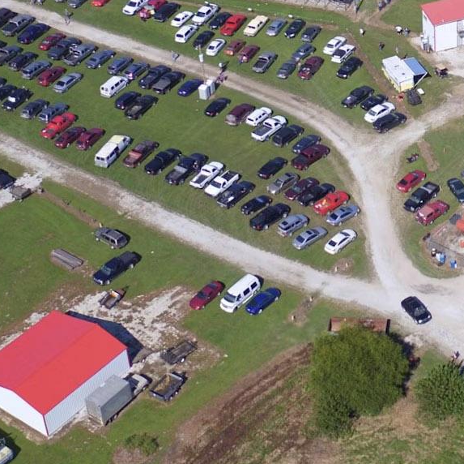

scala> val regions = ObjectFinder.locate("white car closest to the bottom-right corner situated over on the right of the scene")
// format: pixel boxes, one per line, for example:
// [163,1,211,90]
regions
[325,229,357,255]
